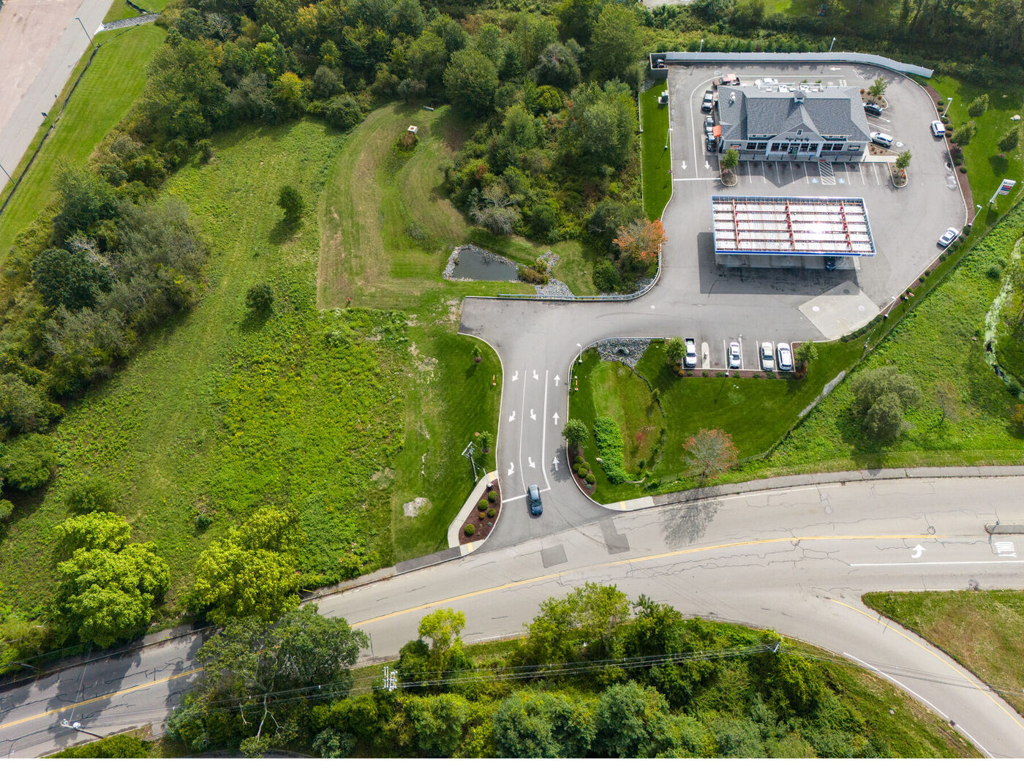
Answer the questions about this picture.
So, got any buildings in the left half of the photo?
No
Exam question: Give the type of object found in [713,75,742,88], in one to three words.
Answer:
vehicle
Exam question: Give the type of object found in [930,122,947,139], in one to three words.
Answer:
car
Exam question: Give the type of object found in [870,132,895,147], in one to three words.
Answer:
car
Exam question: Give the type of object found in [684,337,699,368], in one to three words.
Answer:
vehicle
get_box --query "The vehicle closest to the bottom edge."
[526,484,543,517]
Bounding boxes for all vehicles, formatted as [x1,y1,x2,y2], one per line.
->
[930,122,947,139]
[760,343,775,370]
[705,116,716,134]
[706,134,718,151]
[526,484,543,517]
[777,344,793,370]
[713,75,742,88]
[684,337,699,368]
[701,91,714,110]
[938,227,960,247]
[870,132,895,147]
[728,343,742,368]
[862,102,885,116]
